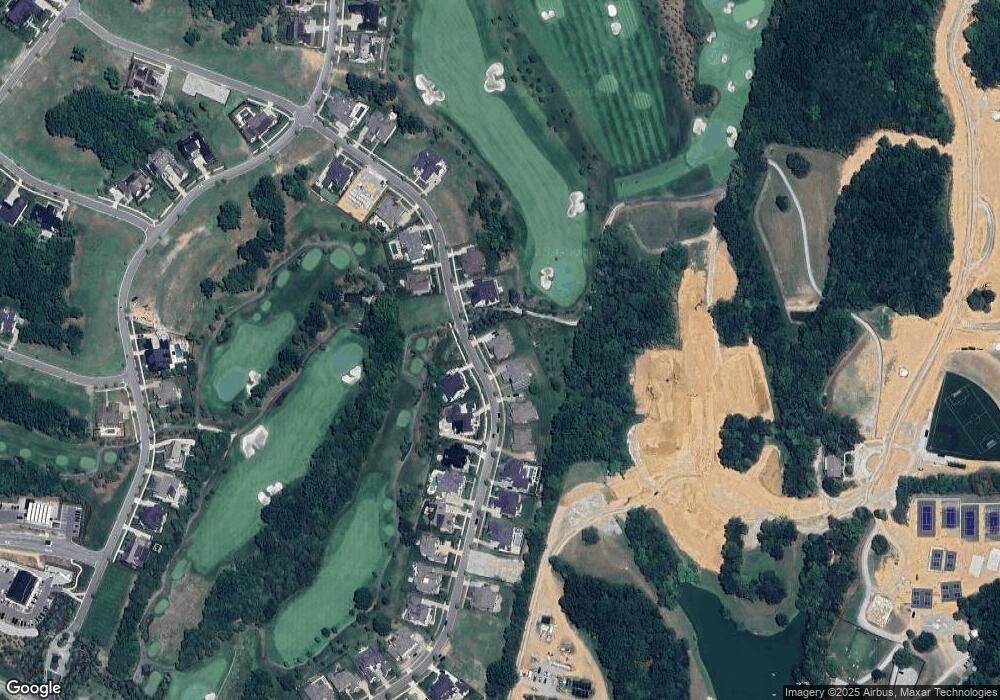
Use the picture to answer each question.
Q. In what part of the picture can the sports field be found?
right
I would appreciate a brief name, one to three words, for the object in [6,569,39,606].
building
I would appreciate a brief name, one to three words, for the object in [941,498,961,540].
tennis court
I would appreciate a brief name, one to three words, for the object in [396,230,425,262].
house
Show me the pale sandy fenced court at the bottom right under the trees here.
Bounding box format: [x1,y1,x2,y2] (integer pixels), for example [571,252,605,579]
[888,666,920,700]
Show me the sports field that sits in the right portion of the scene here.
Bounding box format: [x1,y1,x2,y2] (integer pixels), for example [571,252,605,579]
[928,371,1000,461]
